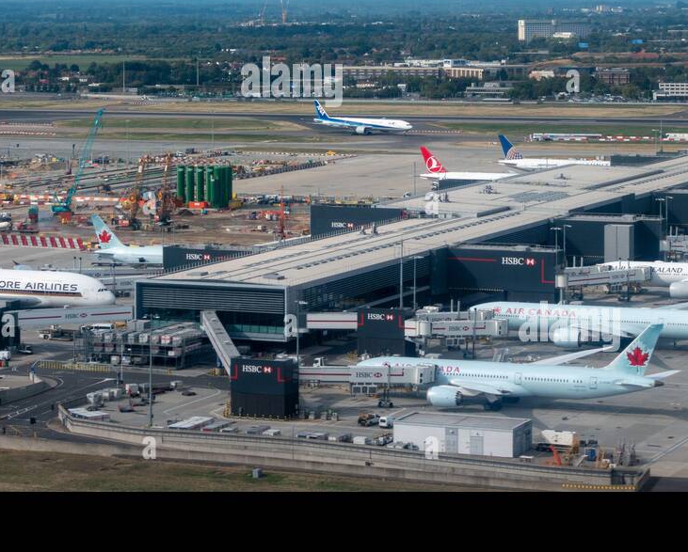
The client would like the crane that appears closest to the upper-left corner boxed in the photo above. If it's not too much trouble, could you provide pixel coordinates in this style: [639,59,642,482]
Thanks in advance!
[49,106,106,223]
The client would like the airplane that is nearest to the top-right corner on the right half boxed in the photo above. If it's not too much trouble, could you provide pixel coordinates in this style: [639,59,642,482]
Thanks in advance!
[489,134,614,170]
